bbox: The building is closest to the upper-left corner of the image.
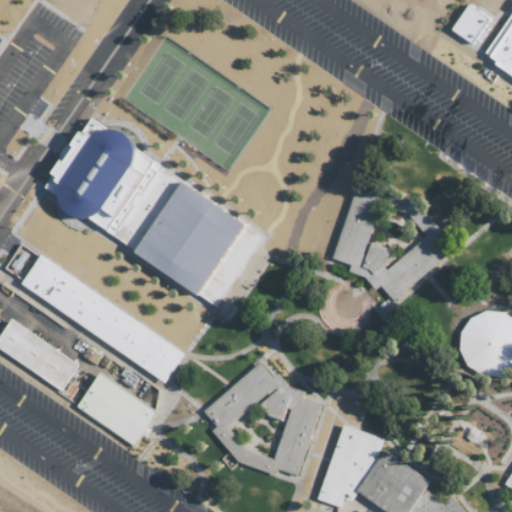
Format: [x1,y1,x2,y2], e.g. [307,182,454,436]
[44,118,136,219]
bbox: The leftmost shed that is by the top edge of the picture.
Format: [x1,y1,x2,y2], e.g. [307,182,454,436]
[452,4,492,44]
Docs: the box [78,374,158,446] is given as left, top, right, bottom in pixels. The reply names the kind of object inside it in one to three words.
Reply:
building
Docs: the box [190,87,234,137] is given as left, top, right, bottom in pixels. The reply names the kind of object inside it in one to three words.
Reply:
tennis court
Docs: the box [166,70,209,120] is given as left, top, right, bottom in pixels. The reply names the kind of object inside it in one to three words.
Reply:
tennis court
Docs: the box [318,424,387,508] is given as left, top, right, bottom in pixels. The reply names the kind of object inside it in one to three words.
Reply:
building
